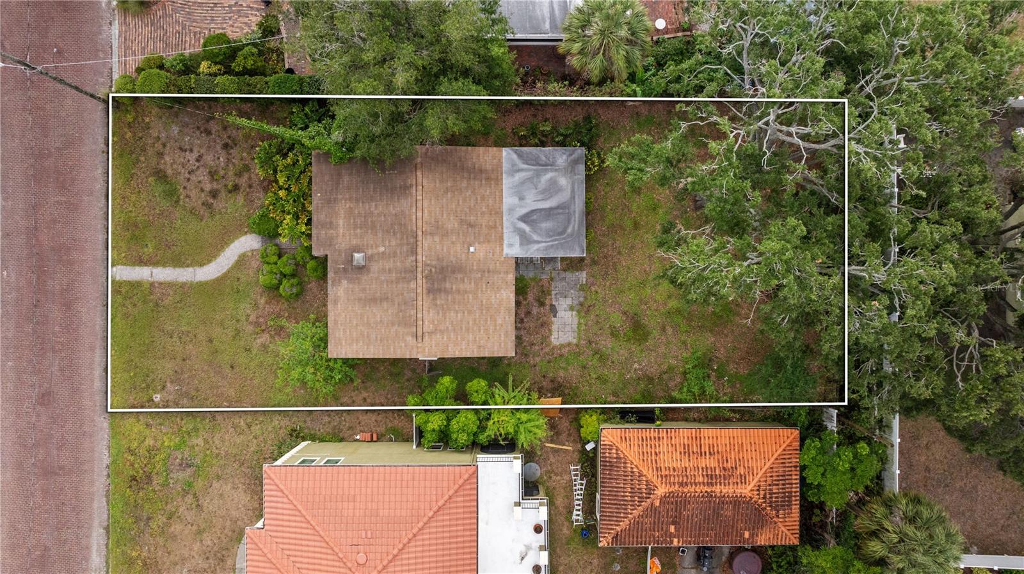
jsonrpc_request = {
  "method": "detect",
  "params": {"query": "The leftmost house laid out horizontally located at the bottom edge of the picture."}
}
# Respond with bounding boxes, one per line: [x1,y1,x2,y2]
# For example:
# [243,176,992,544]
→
[244,442,549,574]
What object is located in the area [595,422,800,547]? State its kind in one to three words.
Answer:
building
